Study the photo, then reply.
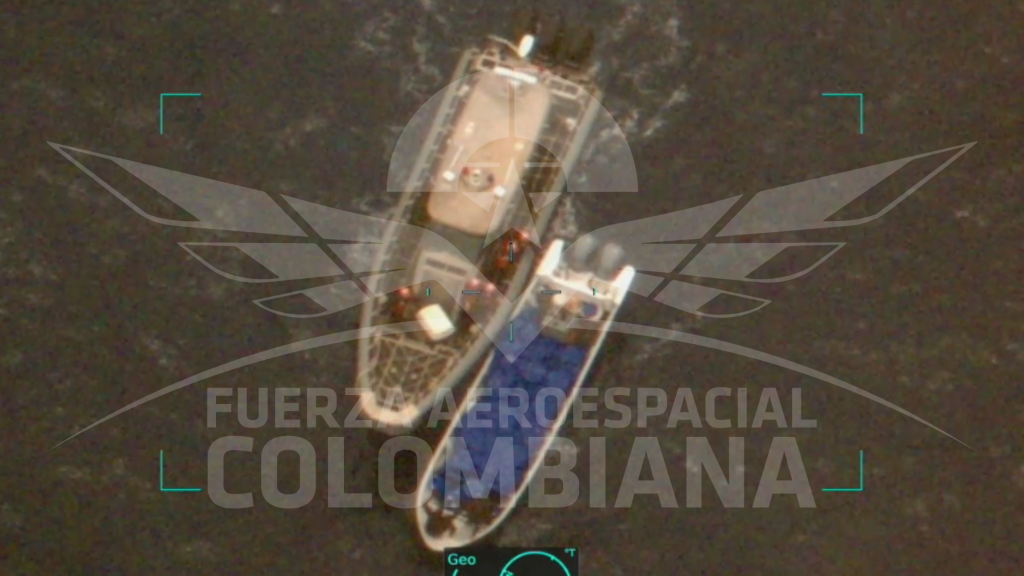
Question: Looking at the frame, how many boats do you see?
two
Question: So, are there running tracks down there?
No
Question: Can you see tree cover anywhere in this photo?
No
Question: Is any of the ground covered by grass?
No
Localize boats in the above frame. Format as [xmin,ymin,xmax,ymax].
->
[357,22,606,425]
[418,234,637,549]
